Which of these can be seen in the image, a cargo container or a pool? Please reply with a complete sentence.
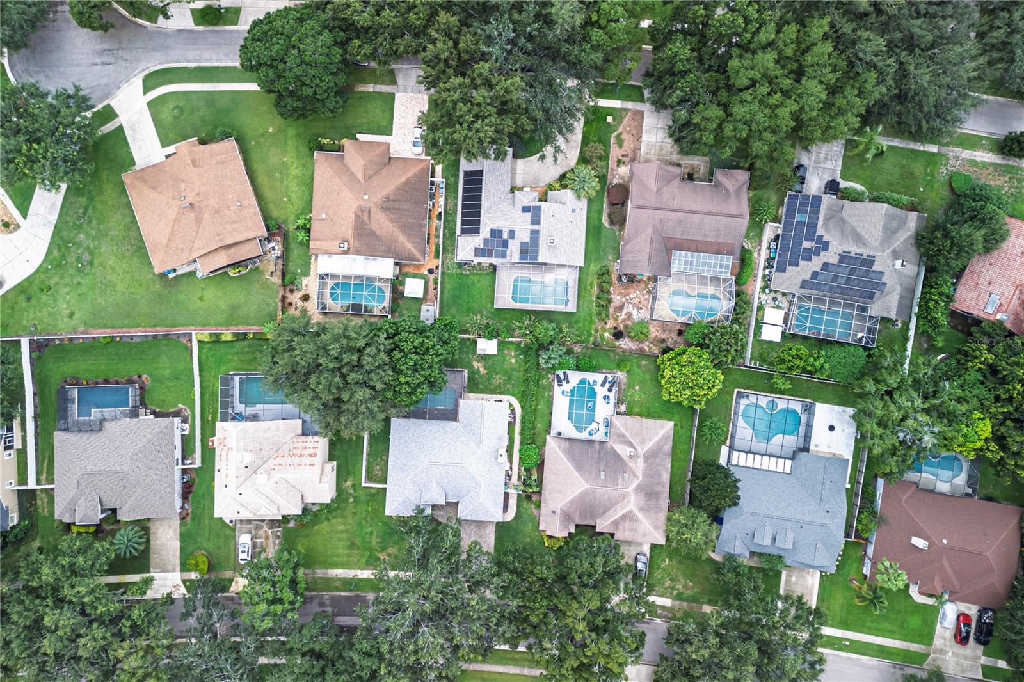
Of the two, only a pool appears.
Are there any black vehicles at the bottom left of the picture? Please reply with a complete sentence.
No, at the bottom left of the picture there is no black vehicle.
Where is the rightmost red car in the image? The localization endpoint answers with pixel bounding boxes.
[953,612,973,646]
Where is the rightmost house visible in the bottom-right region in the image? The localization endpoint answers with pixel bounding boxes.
[862,479,1024,609]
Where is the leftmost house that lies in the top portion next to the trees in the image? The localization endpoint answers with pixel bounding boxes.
[121,137,271,274]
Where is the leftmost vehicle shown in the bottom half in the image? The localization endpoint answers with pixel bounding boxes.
[235,532,252,565]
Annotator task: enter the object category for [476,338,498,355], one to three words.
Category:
shed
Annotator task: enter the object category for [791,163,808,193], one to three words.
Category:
car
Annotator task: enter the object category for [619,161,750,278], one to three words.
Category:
house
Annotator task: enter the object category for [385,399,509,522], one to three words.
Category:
house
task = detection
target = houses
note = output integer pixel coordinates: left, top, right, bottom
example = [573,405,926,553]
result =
[619,161,750,278]
[385,399,509,522]
[204,419,339,520]
[769,192,928,321]
[121,137,271,274]
[54,417,184,524]
[713,450,849,573]
[539,415,674,545]
[0,427,24,531]
[862,479,1024,609]
[309,141,431,278]
[455,145,587,266]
